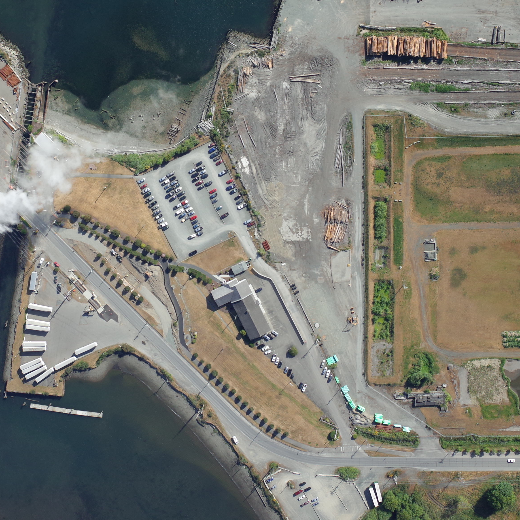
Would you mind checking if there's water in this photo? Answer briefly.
Yes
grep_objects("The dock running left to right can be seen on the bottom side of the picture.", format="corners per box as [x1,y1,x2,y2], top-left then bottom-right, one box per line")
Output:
[30,404,102,418]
